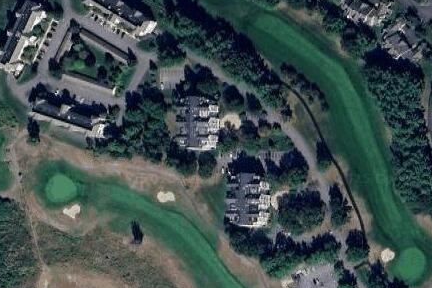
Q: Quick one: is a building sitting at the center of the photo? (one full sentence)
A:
Yes, there is a building at the center of the photo.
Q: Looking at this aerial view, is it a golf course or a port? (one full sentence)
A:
It's a golf course.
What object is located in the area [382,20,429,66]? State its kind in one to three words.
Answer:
house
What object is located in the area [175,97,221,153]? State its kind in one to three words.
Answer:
building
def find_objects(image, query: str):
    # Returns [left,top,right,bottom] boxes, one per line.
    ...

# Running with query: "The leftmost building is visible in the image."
[0,5,48,80]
